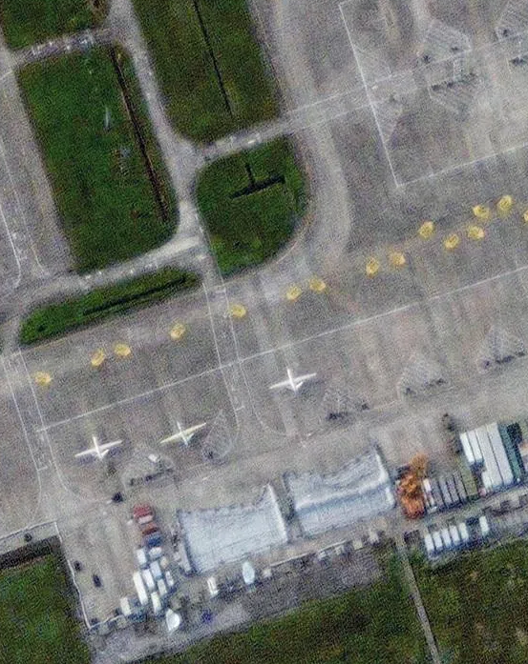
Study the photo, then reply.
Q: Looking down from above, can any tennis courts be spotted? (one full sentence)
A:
No, there is no tennis court in the image.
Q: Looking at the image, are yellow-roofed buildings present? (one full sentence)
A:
No, the photo shows no yellow-roofed building.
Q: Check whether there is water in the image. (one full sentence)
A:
No, the scene doesn't show any water.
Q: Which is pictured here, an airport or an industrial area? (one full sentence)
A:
The area seen from above is an airport.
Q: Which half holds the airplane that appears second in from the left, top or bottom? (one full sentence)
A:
Seen from above, the airplane that appears second in from the left lies in the bottom half of the view.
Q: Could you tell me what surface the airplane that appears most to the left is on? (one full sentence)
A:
In this view, the airplane that appears most to the left is located on the apron.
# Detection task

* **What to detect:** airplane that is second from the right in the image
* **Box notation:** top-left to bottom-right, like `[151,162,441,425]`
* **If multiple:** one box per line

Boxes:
[161,422,206,447]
